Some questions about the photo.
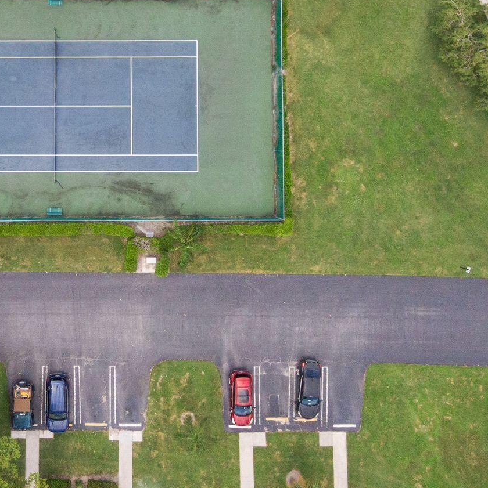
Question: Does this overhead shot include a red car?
Yes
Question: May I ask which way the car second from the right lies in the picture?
from top to bottom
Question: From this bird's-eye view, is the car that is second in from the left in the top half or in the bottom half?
bottom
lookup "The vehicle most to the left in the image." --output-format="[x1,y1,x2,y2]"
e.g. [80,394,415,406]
[12,383,34,430]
